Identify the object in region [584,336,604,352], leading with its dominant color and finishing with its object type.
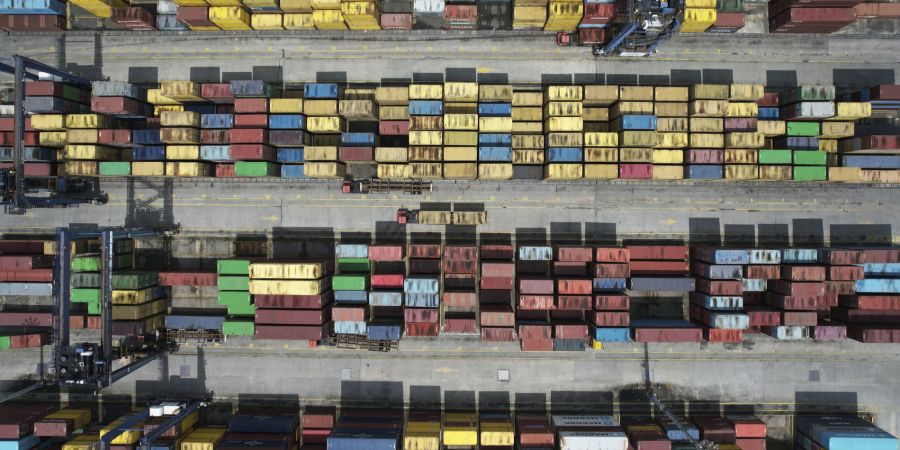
yellow vehicle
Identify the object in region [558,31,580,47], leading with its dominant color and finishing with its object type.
red vehicle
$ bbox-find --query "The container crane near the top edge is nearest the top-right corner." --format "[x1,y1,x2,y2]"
[600,0,694,59]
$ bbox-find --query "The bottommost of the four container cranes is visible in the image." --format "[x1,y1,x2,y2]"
[98,399,207,450]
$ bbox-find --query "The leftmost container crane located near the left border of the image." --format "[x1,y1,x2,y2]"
[0,47,105,209]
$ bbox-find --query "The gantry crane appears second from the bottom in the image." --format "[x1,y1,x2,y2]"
[54,221,175,391]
